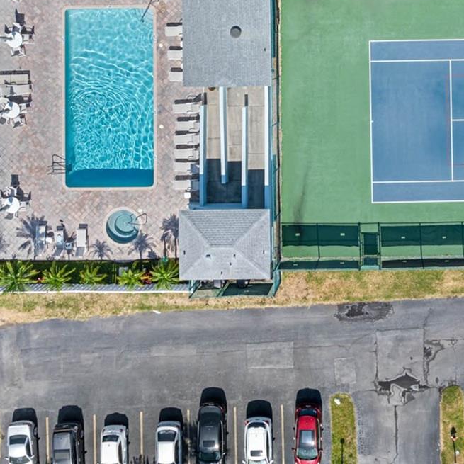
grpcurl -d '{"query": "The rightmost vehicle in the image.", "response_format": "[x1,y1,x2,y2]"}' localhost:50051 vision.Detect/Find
[290,405,324,464]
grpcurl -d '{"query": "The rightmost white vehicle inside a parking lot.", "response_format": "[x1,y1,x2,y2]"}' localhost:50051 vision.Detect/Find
[244,416,275,464]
